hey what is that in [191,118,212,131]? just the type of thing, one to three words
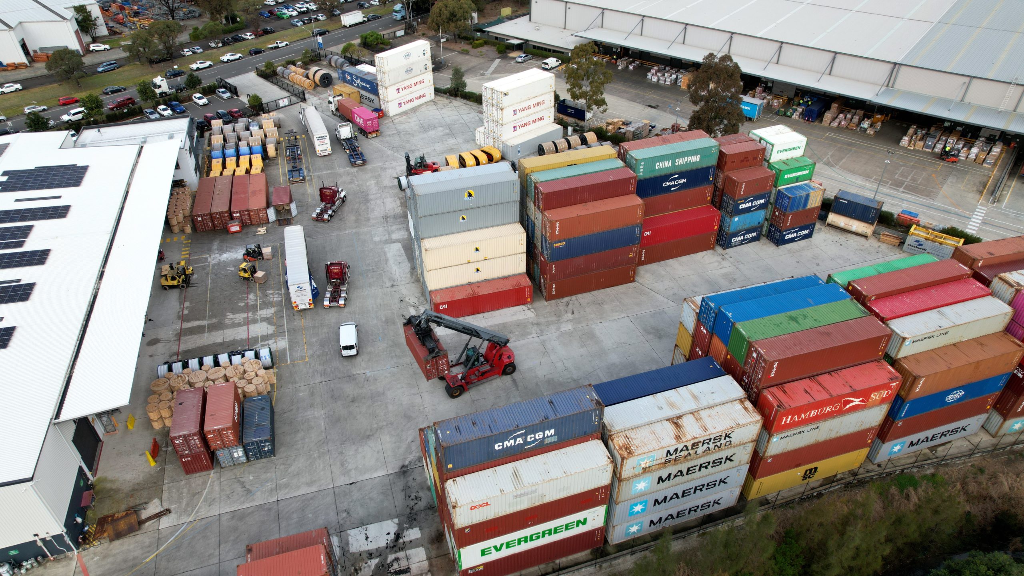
vehicle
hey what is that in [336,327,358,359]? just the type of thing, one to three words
vehicle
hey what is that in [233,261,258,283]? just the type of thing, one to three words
work vehicle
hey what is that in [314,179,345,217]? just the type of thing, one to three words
truck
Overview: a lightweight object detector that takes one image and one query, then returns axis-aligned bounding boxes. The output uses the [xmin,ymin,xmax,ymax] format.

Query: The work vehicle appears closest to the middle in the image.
[404,318,521,399]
